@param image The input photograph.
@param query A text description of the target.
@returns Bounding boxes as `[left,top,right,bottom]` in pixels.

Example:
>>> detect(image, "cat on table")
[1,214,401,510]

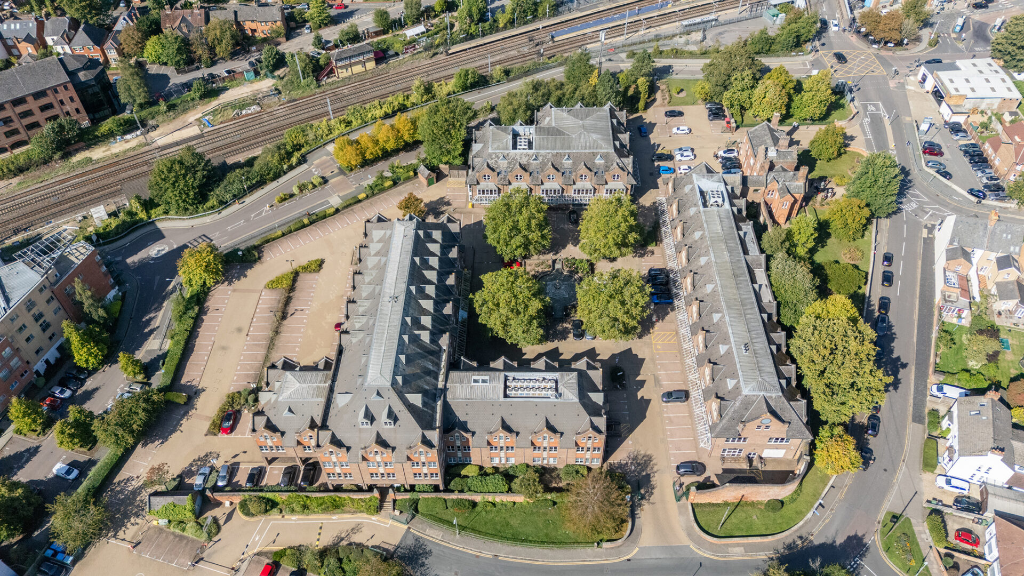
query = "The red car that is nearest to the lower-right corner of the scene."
[953,529,981,546]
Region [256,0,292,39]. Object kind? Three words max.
house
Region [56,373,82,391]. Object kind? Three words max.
car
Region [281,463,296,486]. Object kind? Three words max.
car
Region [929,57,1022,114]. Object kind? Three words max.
building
